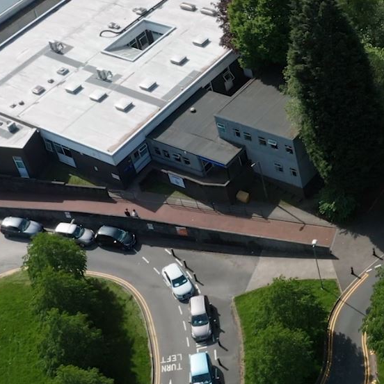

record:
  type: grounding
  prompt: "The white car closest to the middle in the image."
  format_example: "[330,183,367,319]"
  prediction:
[160,261,197,306]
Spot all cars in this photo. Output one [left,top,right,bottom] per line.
[187,295,214,343]
[160,261,197,306]
[187,353,215,384]
[53,219,95,250]
[0,217,47,242]
[91,225,140,254]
